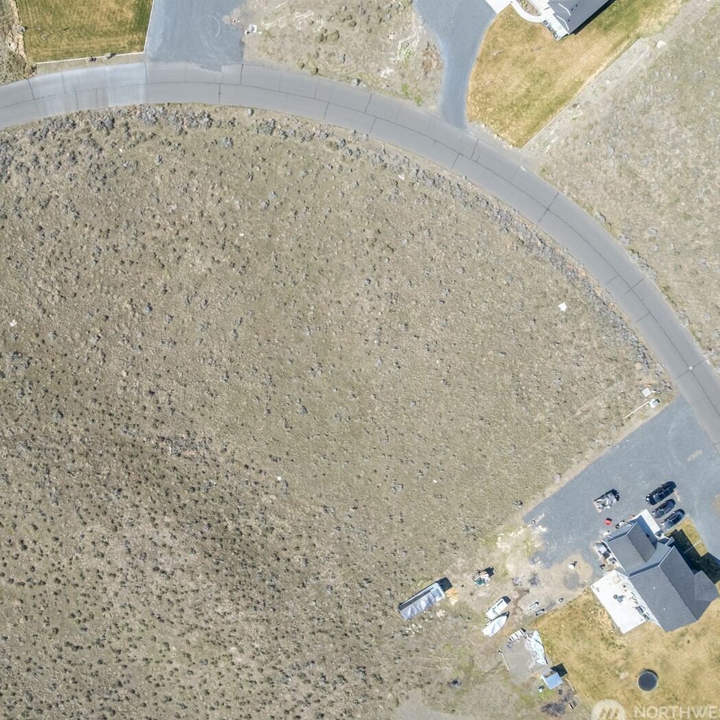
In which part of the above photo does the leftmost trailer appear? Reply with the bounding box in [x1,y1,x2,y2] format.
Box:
[399,580,448,619]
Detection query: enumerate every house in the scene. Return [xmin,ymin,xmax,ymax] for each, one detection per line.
[533,0,608,36]
[602,522,720,633]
